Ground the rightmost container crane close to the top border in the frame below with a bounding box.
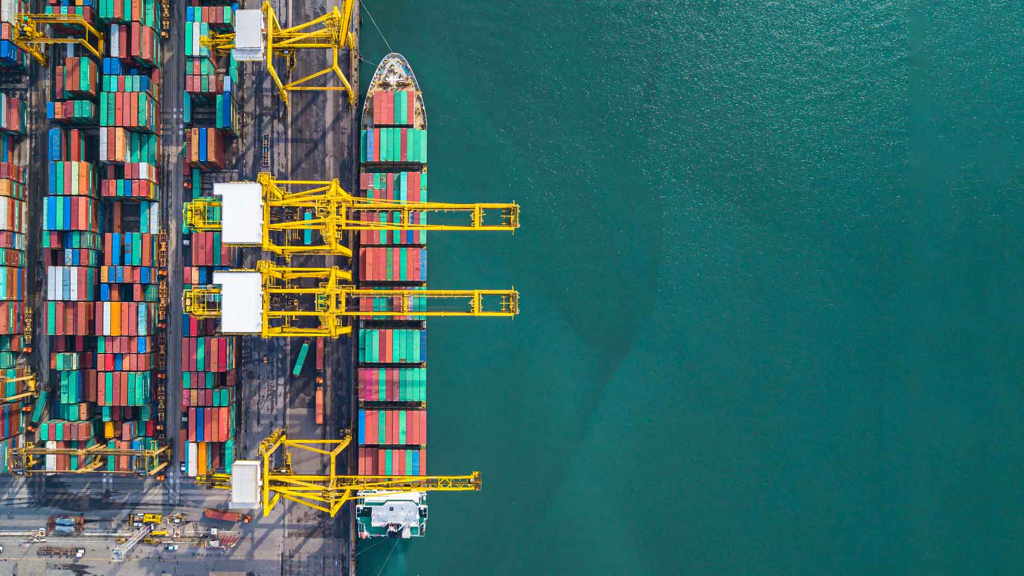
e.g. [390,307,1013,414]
[196,0,356,115]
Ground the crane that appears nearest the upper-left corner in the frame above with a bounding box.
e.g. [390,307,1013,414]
[18,14,112,62]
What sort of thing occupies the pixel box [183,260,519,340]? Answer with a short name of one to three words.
container crane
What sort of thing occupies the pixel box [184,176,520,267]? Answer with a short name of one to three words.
container crane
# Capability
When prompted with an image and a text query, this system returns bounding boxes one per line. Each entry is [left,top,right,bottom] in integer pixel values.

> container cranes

[183,260,519,340]
[9,434,106,472]
[192,423,480,517]
[0,368,39,398]
[82,435,175,473]
[18,14,112,62]
[196,0,356,115]
[184,176,520,267]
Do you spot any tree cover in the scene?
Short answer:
No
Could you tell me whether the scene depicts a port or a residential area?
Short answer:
port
